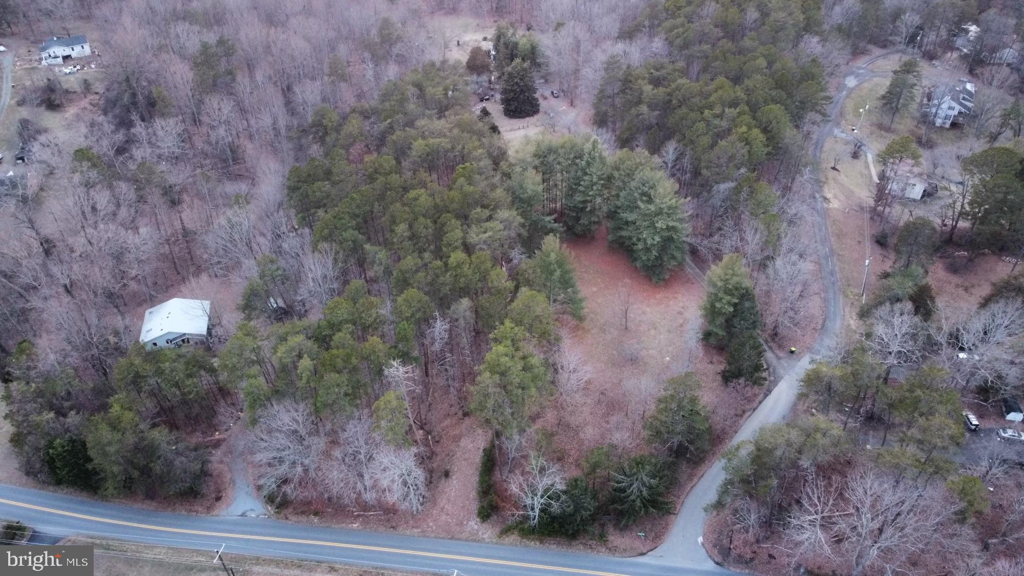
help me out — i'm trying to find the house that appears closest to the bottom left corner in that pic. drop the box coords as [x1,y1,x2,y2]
[138,295,214,360]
